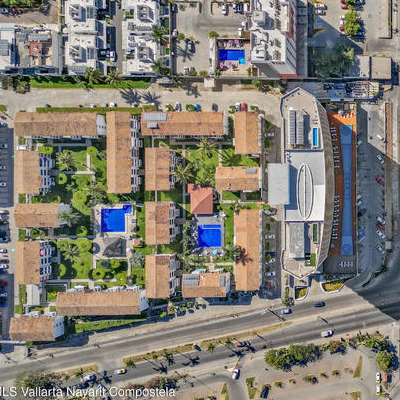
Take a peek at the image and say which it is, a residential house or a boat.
residential house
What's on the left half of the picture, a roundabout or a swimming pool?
swimming pool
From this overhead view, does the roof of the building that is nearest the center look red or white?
red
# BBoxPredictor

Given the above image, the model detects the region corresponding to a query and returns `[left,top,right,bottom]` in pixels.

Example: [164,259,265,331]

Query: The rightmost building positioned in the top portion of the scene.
[371,58,391,82]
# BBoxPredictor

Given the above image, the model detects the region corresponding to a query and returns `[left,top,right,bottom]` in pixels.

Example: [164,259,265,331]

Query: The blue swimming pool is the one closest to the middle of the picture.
[197,225,222,248]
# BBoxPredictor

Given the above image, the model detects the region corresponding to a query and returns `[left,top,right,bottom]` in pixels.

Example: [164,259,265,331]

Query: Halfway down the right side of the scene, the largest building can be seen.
[268,87,335,281]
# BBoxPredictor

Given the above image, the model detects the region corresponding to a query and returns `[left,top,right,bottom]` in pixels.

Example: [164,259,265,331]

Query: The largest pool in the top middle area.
[217,49,245,62]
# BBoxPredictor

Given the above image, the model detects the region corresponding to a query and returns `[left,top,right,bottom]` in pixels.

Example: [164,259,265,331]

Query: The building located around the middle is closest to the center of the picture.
[188,184,214,215]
